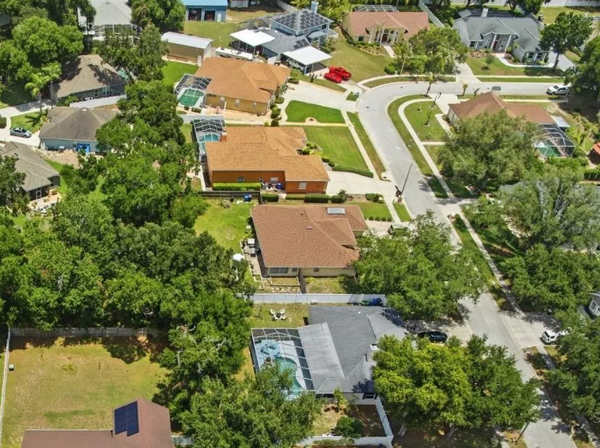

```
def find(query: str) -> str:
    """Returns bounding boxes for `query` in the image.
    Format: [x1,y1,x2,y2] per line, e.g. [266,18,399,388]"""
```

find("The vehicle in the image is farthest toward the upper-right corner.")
[545,84,574,96]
